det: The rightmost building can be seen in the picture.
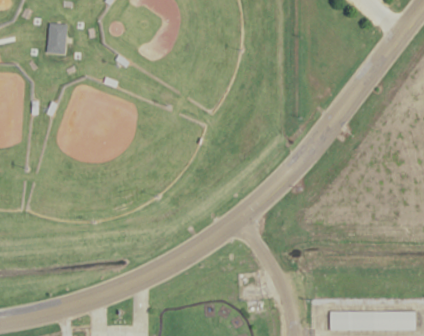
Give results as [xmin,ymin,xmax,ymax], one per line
[330,312,416,332]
